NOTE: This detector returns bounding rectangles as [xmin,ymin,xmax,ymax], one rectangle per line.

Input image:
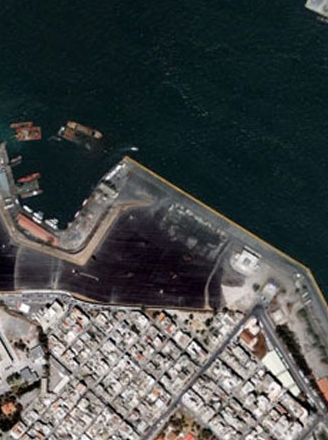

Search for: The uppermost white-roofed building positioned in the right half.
[235,252,258,275]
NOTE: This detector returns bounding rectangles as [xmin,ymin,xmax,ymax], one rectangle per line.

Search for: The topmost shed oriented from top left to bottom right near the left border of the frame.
[16,214,59,245]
